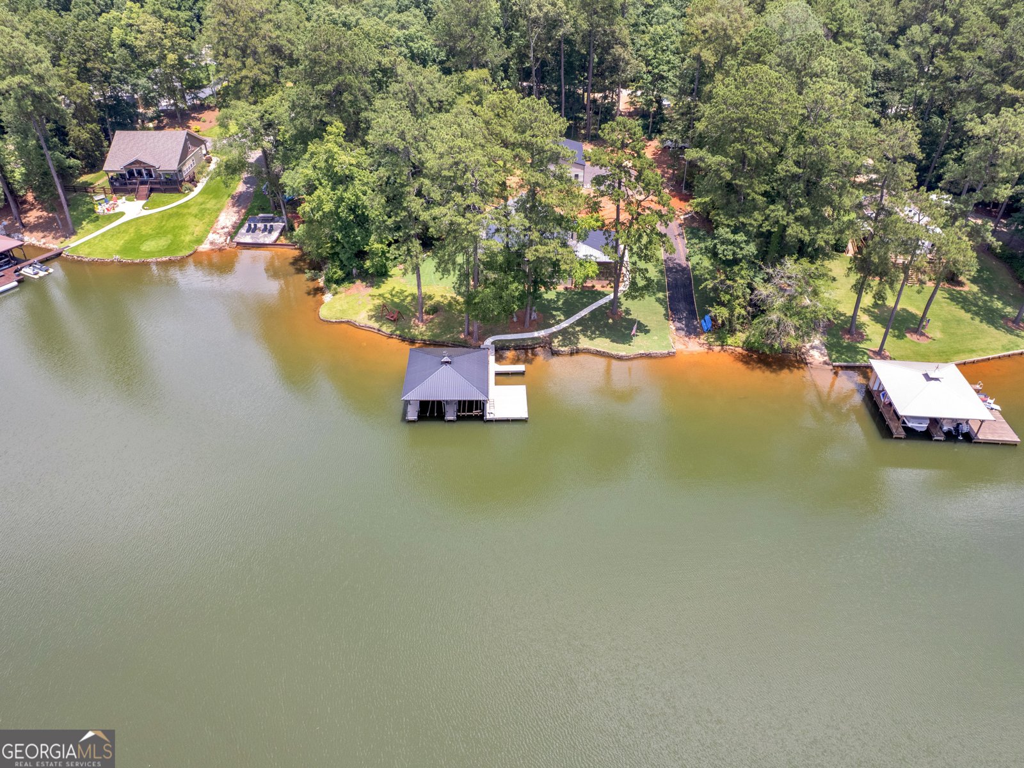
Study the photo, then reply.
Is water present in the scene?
Yes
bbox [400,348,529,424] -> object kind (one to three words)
building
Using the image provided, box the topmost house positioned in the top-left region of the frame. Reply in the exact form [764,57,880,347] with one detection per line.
[103,130,216,198]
